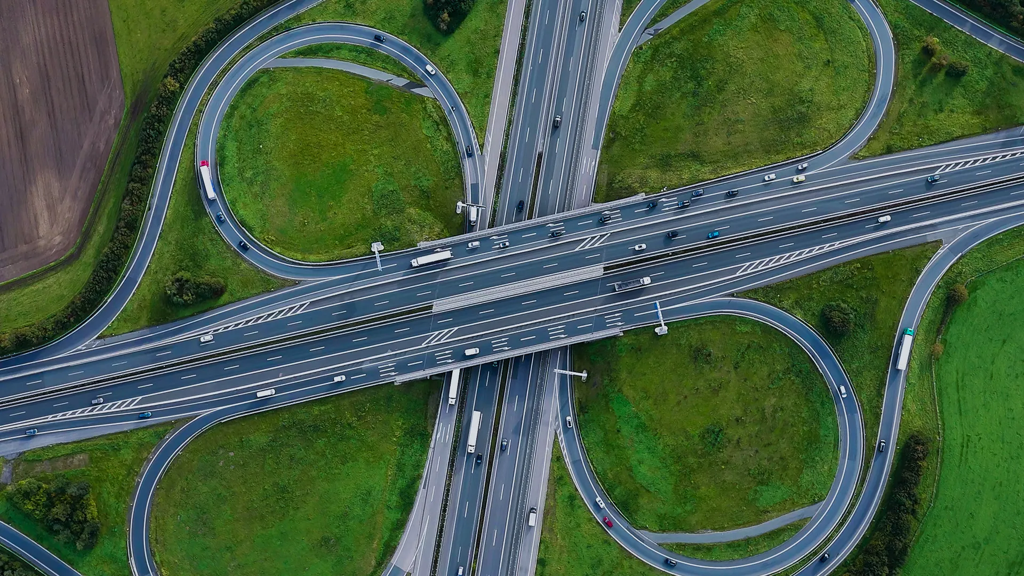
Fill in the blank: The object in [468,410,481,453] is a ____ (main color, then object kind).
white vehicle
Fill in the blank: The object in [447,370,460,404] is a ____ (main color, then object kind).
white vehicle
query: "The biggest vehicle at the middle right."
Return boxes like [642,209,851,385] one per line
[895,328,913,370]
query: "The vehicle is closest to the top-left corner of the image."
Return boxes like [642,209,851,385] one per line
[200,162,217,202]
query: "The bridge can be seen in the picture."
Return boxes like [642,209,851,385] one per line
[395,194,648,387]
